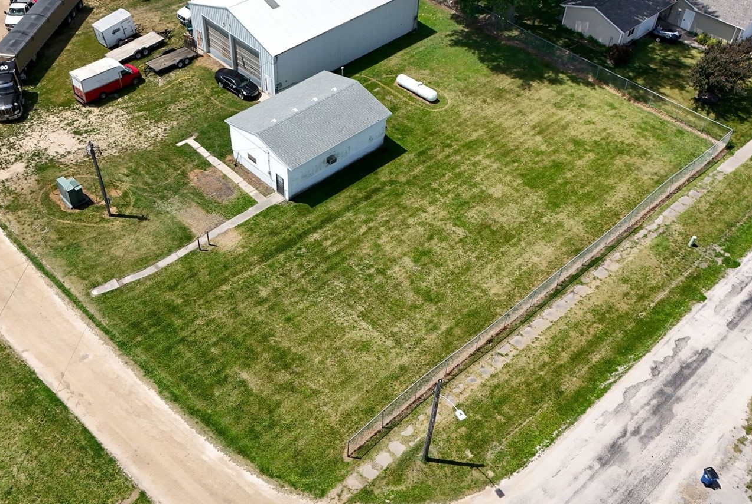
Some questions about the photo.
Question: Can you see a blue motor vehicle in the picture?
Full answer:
No, there's no blue motor vehicle here.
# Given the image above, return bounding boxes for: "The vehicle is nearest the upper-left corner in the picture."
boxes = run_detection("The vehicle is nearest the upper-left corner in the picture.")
[0,0,40,27]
